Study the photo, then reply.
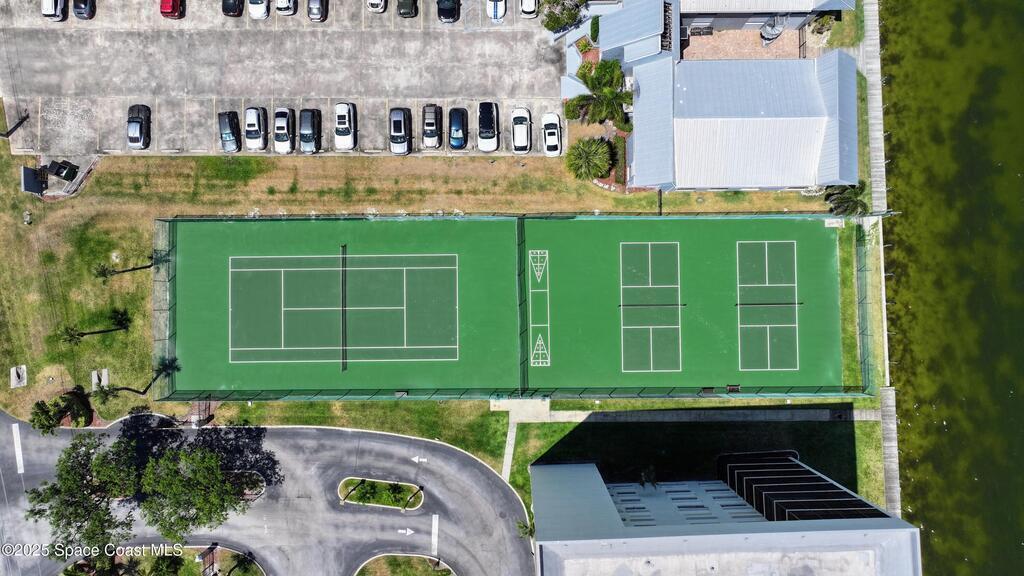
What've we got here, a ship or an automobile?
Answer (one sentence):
Visible in the photo is an automobile.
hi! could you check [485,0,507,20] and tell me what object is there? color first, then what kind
white car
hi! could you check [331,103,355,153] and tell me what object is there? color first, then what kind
white car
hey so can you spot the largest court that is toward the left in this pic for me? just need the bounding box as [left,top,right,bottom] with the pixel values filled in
[168,218,521,397]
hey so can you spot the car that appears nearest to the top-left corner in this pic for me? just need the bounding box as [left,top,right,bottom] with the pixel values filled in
[39,0,68,21]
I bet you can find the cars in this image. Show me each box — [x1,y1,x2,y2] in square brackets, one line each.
[520,0,538,18]
[214,109,239,154]
[366,0,385,14]
[70,0,96,19]
[295,110,319,157]
[270,109,293,156]
[124,106,149,151]
[475,103,499,154]
[387,108,410,158]
[331,103,355,153]
[540,113,561,159]
[275,0,296,16]
[221,0,243,16]
[241,107,266,153]
[436,0,459,24]
[245,0,268,18]
[307,0,327,20]
[159,0,184,17]
[39,0,68,21]
[397,0,416,17]
[446,108,468,151]
[485,0,507,20]
[510,109,532,156]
